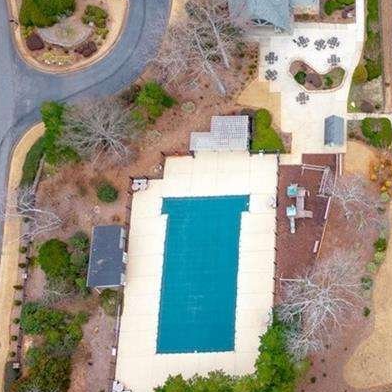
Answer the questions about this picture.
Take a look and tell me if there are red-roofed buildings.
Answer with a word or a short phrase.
No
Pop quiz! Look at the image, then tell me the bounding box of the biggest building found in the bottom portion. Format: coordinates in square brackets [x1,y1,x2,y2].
[86,226,131,287]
